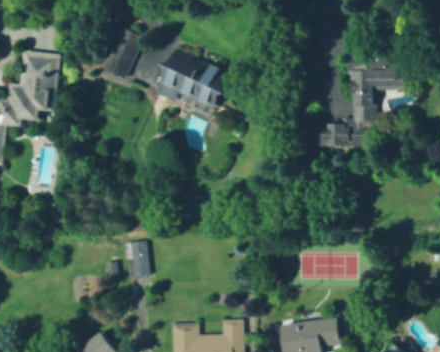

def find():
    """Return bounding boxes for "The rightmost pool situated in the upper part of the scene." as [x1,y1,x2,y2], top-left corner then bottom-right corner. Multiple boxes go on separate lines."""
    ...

[389,96,415,110]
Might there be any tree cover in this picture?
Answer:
Yes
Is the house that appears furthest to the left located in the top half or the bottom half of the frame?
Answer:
top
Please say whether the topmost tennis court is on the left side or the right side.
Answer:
right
